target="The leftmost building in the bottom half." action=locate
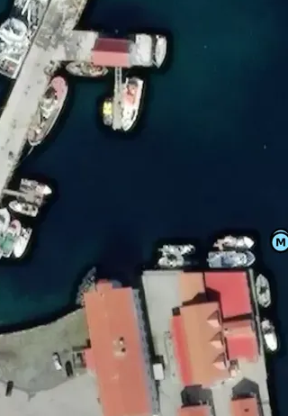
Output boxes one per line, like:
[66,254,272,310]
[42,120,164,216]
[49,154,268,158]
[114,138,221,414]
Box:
[75,281,159,416]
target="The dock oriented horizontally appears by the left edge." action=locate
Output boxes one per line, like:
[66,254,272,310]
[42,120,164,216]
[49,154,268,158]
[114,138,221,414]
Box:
[3,189,42,205]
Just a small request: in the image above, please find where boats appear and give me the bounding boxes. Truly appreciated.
[8,202,39,219]
[28,76,64,146]
[161,243,195,254]
[208,251,255,269]
[102,99,113,127]
[216,238,254,250]
[0,207,9,242]
[20,176,52,193]
[261,320,275,352]
[157,254,185,268]
[16,226,35,259]
[0,220,21,262]
[256,273,271,308]
[119,78,145,131]
[154,35,168,68]
[65,63,109,79]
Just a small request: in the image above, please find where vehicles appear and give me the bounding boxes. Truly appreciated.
[6,382,13,395]
[53,355,62,370]
[65,362,73,376]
